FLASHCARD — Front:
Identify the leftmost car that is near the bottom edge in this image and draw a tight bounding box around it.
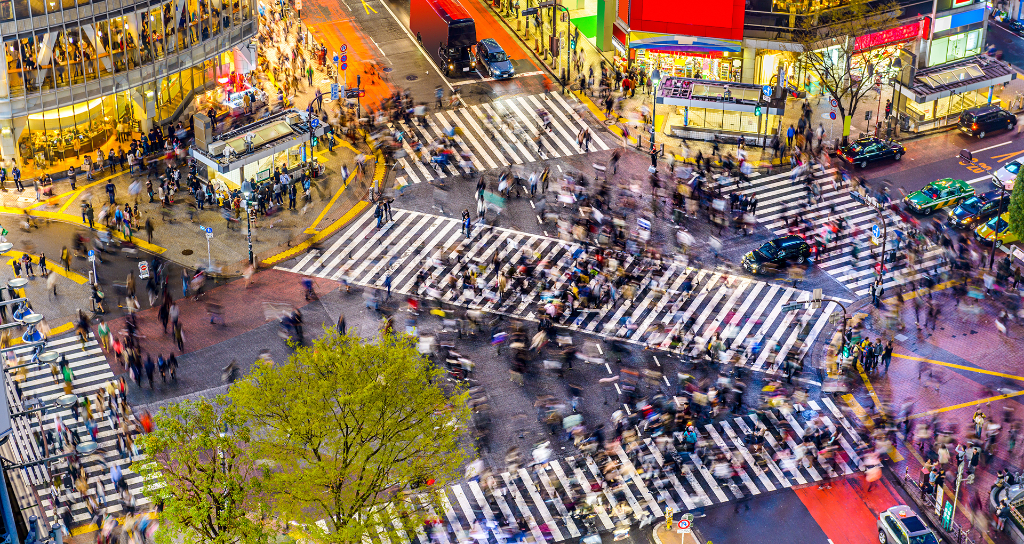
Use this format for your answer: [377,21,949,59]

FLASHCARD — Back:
[876,507,939,544]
